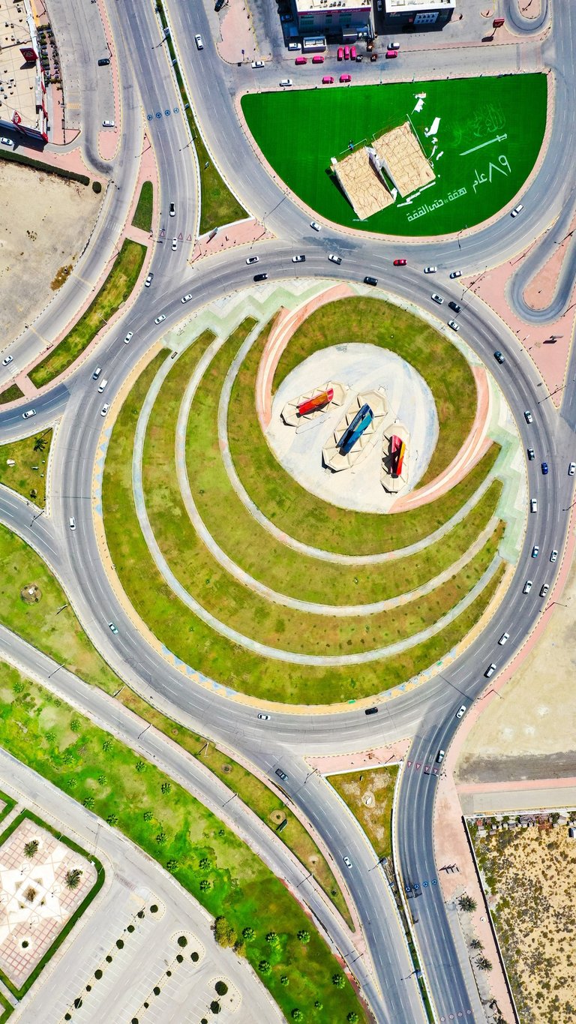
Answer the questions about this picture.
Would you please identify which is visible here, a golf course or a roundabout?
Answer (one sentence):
The image shows a roundabout.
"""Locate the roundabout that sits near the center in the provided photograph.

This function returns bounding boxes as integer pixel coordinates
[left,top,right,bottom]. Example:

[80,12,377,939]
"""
[49,234,572,758]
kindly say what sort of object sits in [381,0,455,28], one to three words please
building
